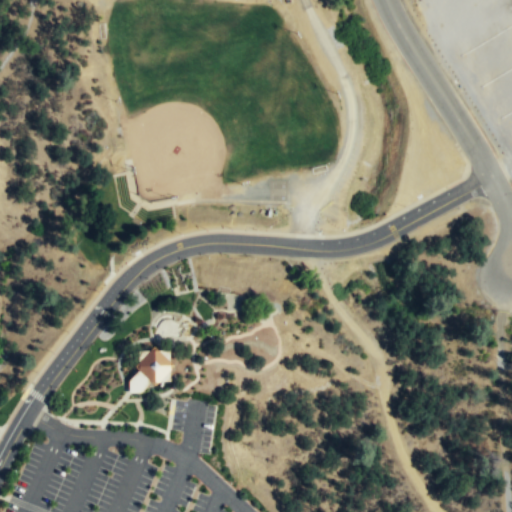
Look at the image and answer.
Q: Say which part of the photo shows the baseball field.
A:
top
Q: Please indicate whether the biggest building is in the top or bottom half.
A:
bottom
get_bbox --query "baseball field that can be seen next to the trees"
[109,0,340,201]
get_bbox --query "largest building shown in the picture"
[128,346,175,394]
